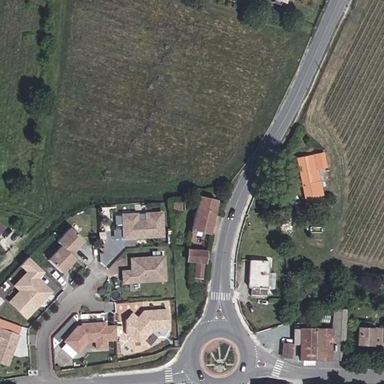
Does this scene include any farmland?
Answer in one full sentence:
Yes, farmland shows up in the scene.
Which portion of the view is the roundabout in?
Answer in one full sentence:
The roundabout sits in the bottom section of the image.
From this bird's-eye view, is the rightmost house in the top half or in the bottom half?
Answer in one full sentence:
The rightmost house is in the bottom half of the image.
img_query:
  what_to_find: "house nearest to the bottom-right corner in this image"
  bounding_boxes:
[359,328,384,347]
